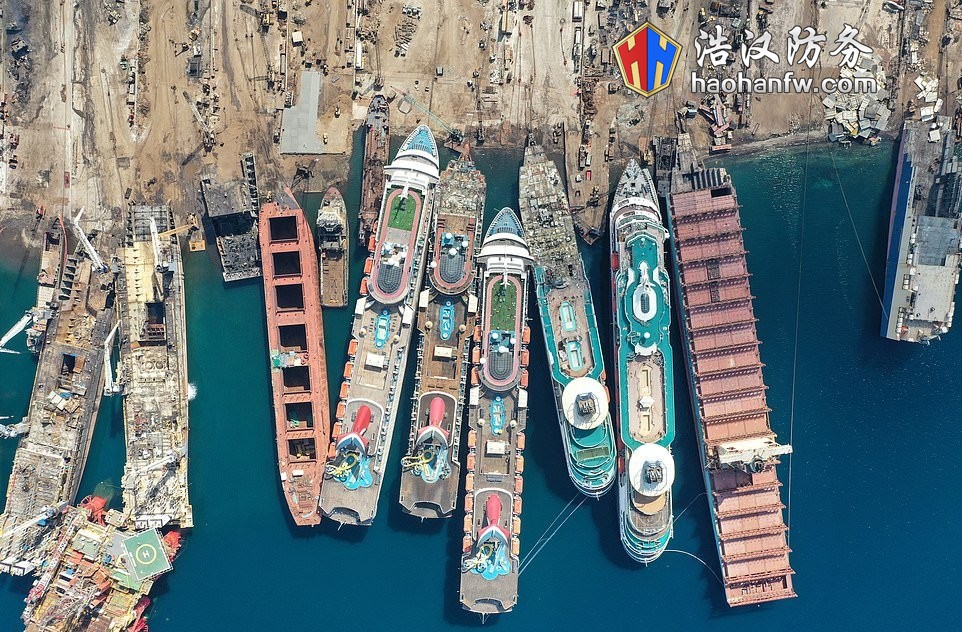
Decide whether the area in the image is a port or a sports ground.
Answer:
port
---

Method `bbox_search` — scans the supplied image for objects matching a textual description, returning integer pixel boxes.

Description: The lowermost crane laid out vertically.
[103,317,123,394]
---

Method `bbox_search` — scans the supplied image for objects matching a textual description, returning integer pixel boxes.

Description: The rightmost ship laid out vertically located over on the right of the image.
[882,119,962,344]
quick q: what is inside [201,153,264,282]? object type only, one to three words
ship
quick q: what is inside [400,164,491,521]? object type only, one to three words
ship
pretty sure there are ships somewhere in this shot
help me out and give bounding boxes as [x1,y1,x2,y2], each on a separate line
[260,187,330,526]
[459,206,533,613]
[610,160,675,567]
[0,254,119,575]
[320,125,444,527]
[357,94,390,243]
[26,213,71,351]
[665,136,797,610]
[201,153,264,282]
[517,146,616,499]
[400,164,491,521]
[113,204,194,528]
[882,119,962,344]
[318,186,350,306]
